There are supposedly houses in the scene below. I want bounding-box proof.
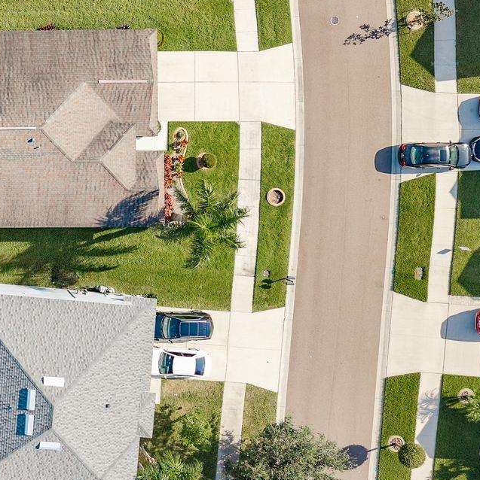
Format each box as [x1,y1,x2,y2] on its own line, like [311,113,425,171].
[0,281,158,480]
[0,29,166,228]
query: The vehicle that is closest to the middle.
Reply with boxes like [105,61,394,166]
[153,309,216,345]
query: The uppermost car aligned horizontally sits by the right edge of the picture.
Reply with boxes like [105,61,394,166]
[396,139,468,174]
